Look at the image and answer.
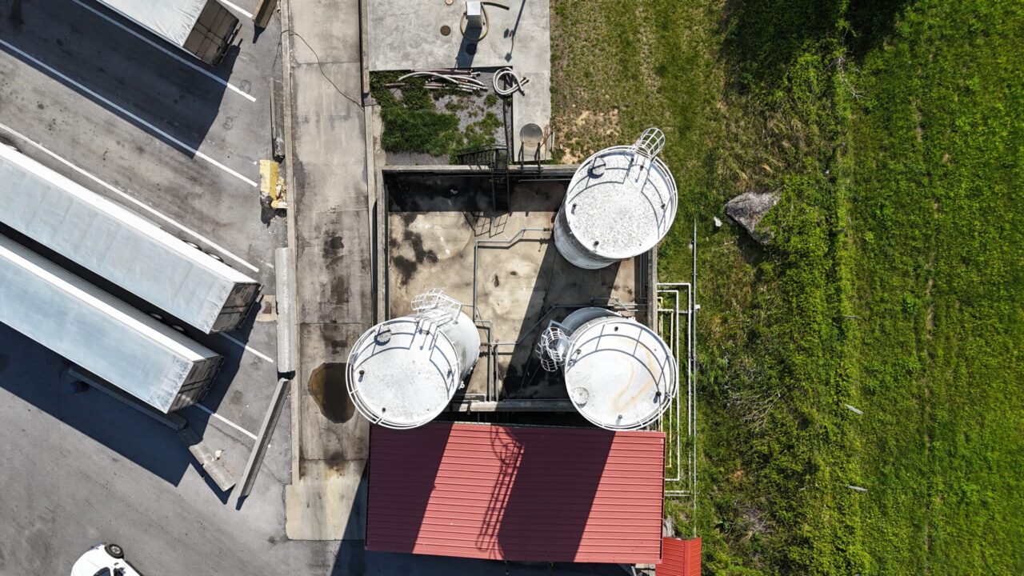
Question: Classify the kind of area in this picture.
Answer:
industrial area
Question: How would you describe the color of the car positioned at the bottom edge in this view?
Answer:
white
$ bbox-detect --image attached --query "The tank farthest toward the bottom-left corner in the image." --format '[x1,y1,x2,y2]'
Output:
[346,287,484,429]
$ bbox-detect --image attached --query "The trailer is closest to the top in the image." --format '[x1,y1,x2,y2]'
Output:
[89,0,246,72]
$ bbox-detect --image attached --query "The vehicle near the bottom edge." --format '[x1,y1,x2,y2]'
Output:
[72,543,141,576]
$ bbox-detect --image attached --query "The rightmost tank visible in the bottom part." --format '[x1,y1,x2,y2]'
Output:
[533,306,679,431]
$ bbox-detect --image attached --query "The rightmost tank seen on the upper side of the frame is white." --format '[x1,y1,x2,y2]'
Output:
[551,123,679,270]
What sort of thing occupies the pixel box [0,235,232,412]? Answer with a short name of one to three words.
trailer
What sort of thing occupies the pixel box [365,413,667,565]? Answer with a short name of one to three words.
shed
